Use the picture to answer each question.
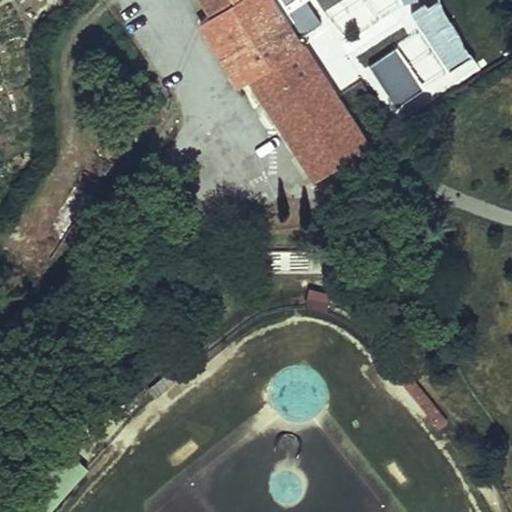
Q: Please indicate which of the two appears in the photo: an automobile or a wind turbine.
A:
automobile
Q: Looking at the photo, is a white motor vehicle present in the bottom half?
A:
No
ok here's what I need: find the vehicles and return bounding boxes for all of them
[126,15,148,33]
[162,70,183,88]
[254,138,280,159]
[120,2,142,20]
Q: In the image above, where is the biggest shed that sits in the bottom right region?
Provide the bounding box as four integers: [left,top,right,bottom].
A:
[406,380,448,430]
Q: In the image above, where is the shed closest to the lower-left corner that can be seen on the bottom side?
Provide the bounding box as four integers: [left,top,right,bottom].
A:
[38,466,88,512]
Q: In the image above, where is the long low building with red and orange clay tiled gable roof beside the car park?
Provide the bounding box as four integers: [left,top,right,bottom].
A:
[200,0,370,184]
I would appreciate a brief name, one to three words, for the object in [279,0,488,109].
building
